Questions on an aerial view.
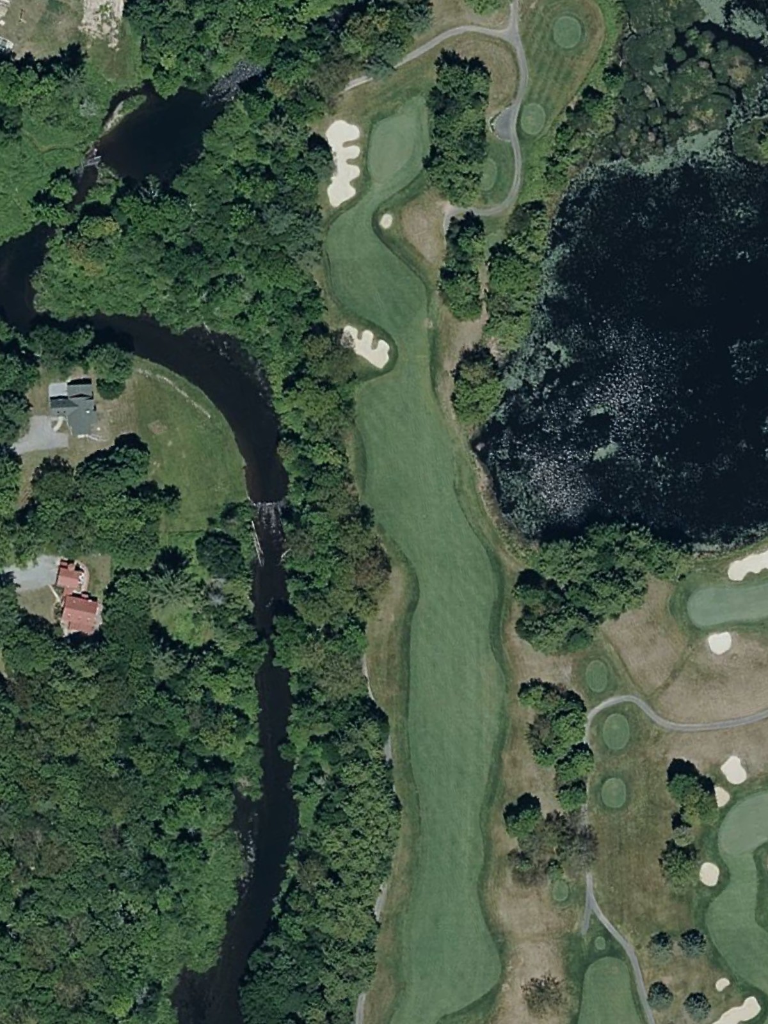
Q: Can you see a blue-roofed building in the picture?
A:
No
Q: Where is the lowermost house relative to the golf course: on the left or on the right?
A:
left of it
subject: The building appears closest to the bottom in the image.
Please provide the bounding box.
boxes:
[54,560,100,637]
